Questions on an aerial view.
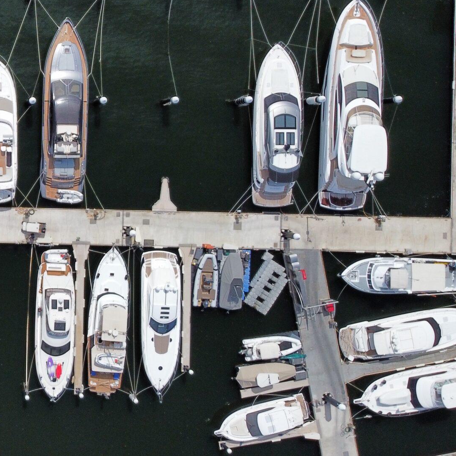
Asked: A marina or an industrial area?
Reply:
marina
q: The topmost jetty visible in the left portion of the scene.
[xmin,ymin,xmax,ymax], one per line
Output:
[150,178,177,212]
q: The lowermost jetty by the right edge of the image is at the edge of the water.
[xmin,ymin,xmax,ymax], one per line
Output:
[284,250,456,456]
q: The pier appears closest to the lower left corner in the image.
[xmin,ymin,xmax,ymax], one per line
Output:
[72,240,91,395]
